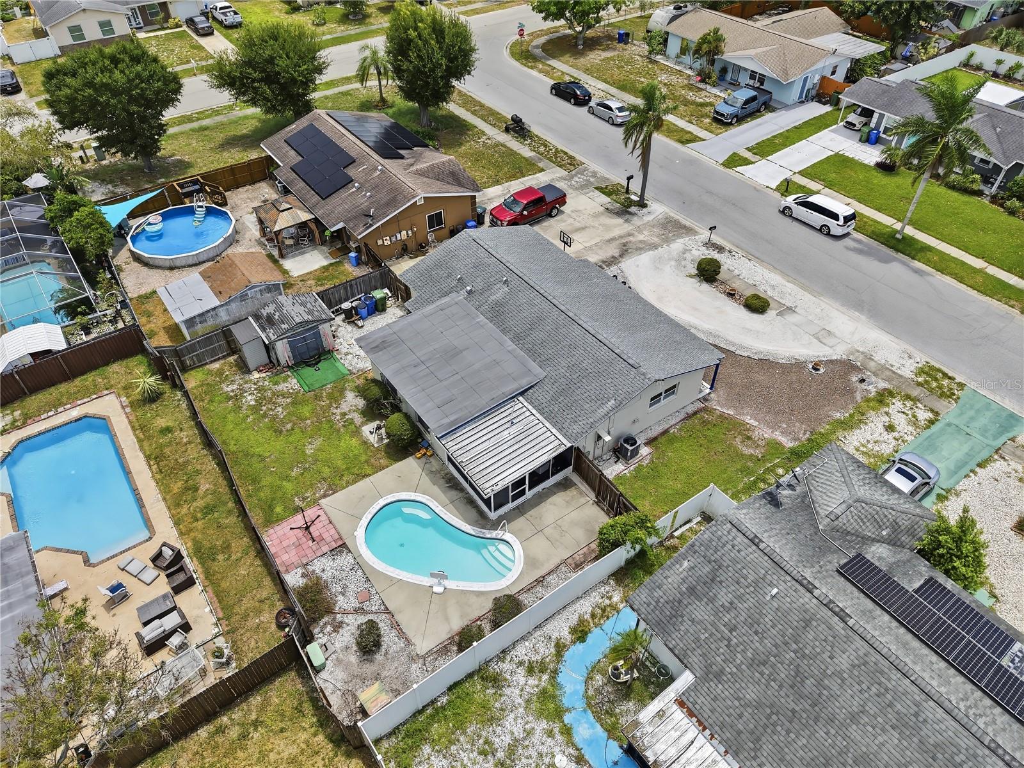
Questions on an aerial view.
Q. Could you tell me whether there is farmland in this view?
No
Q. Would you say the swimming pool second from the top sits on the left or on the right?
left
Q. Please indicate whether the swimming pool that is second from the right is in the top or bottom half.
top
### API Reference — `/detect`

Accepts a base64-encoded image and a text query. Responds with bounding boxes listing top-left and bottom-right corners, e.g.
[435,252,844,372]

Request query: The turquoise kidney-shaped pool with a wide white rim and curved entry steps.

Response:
[355,491,524,590]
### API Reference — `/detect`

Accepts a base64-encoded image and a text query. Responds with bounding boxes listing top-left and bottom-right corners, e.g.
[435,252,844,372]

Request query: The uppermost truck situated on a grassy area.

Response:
[206,0,239,26]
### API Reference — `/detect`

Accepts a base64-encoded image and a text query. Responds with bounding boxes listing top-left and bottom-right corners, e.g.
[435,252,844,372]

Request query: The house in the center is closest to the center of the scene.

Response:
[355,226,723,521]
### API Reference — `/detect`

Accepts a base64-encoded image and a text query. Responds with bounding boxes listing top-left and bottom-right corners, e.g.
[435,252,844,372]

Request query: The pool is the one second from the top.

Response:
[0,260,73,331]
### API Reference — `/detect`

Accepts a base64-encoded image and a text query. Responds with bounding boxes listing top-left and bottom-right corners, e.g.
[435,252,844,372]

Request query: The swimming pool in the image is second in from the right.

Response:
[126,202,242,276]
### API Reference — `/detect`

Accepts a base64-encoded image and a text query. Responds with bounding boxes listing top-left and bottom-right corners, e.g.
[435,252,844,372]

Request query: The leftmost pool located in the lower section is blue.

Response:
[0,412,154,566]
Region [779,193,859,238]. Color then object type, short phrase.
white vehicle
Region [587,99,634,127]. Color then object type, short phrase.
gray car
